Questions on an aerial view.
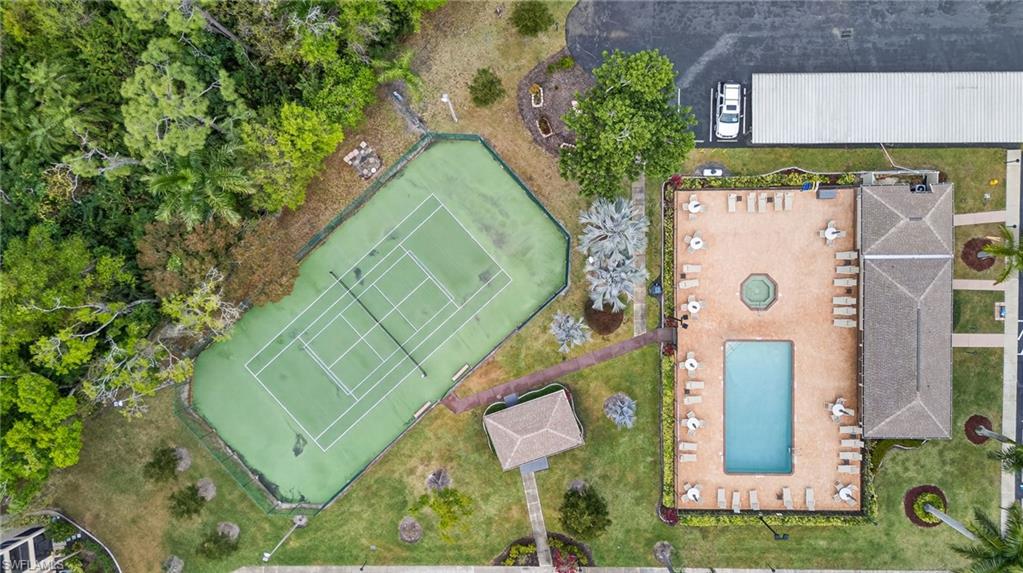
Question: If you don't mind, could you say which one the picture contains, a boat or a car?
car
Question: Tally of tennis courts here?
1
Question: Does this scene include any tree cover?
Yes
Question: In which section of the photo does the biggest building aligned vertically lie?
right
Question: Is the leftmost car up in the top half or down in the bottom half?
top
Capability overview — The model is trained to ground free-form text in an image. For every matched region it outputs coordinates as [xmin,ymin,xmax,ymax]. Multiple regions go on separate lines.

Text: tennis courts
[193,139,568,505]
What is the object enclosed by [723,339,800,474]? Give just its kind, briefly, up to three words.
swimming pool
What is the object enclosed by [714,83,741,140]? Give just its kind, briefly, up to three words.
car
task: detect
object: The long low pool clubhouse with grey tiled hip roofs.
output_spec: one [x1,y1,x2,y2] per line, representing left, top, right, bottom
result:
[856,184,954,439]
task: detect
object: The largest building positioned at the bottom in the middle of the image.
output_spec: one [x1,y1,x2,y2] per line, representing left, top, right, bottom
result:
[484,388,584,470]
